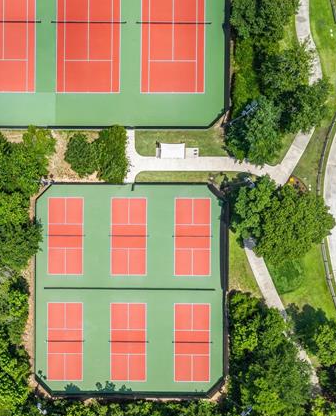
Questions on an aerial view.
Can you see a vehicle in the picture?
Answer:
No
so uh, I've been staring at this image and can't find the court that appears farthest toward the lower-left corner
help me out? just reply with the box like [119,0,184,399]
[47,302,83,381]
